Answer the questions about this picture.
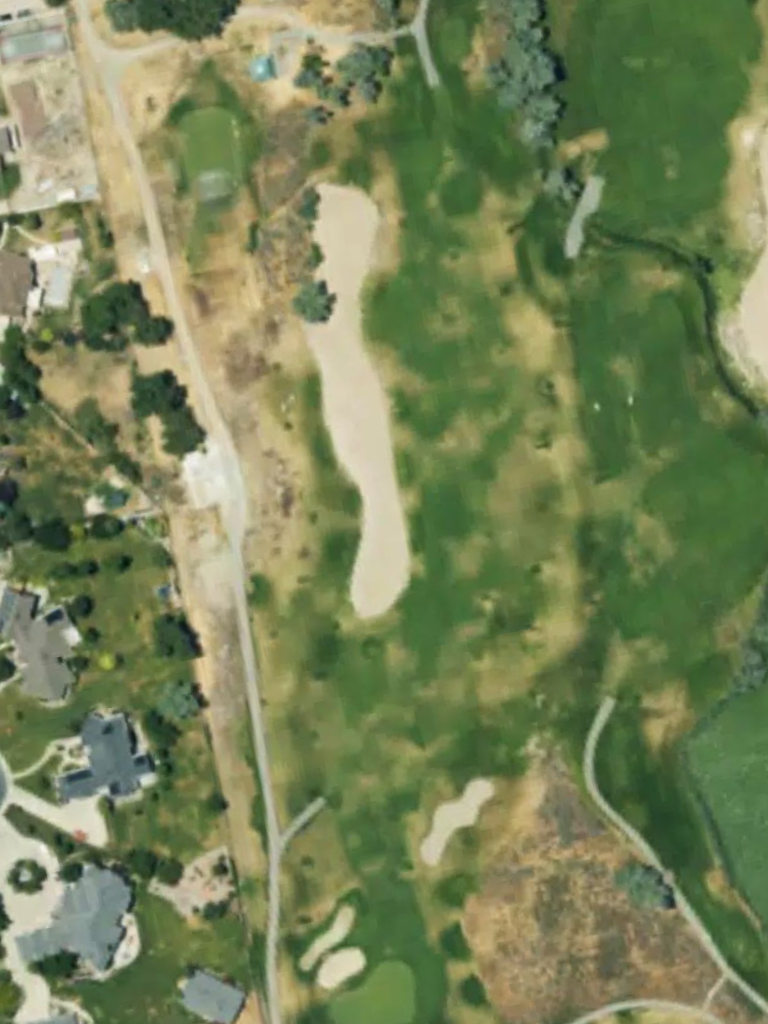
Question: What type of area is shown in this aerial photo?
golf course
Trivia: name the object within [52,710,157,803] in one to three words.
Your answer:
house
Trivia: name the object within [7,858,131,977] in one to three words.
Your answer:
house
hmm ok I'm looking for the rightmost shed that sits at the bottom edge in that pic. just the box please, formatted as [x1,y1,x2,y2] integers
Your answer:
[181,972,245,1024]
